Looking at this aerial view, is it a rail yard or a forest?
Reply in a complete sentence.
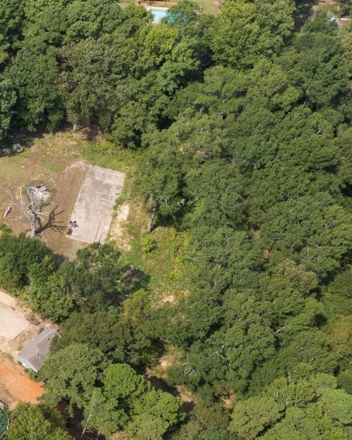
The area seen from above is a forest.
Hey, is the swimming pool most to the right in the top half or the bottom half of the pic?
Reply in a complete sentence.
Seen from above, the swimming pool most to the right lies in the top half of the view.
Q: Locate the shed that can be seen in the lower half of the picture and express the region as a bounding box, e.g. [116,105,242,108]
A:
[17,327,59,377]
